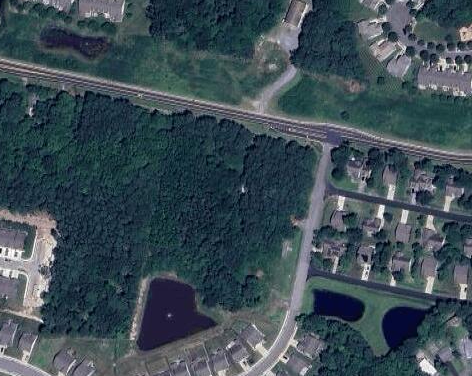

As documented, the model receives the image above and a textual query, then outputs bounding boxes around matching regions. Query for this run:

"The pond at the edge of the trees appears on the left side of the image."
[138,277,216,350]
